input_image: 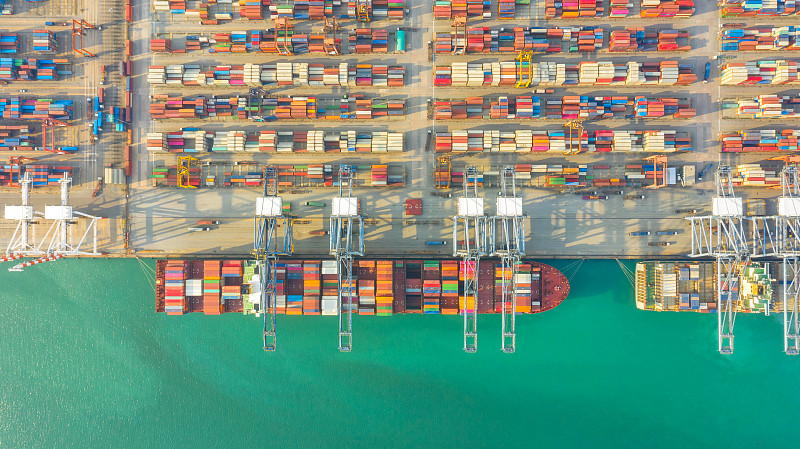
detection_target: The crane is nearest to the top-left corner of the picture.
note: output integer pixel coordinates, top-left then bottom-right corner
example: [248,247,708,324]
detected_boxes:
[71,16,102,57]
